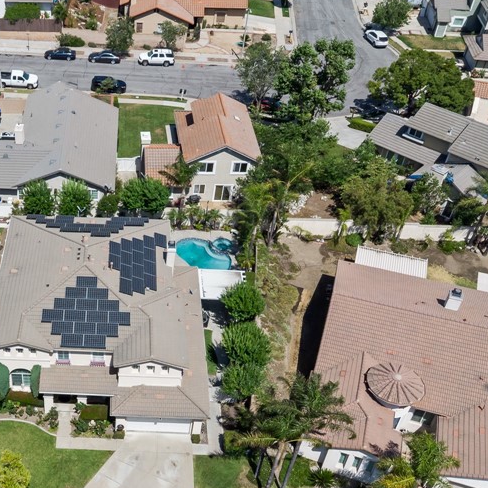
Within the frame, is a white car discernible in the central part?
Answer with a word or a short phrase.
No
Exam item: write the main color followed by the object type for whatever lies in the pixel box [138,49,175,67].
white car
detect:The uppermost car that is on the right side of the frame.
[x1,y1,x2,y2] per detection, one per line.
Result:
[362,31,390,48]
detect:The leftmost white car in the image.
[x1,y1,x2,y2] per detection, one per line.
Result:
[0,70,39,89]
